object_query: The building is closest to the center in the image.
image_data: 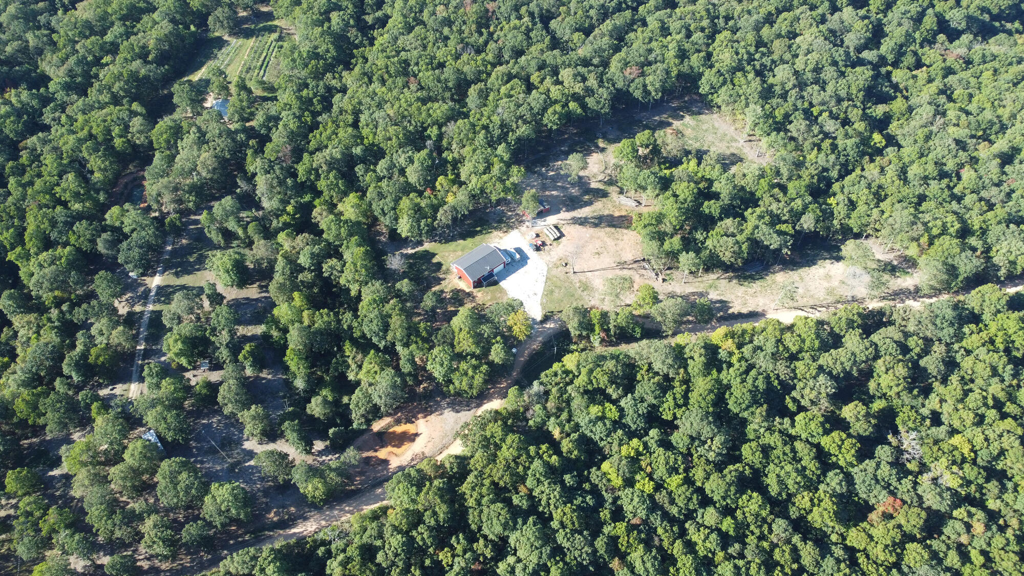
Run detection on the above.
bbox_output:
[450,243,507,289]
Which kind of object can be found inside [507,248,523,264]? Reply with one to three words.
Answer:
vehicle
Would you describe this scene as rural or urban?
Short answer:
rural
